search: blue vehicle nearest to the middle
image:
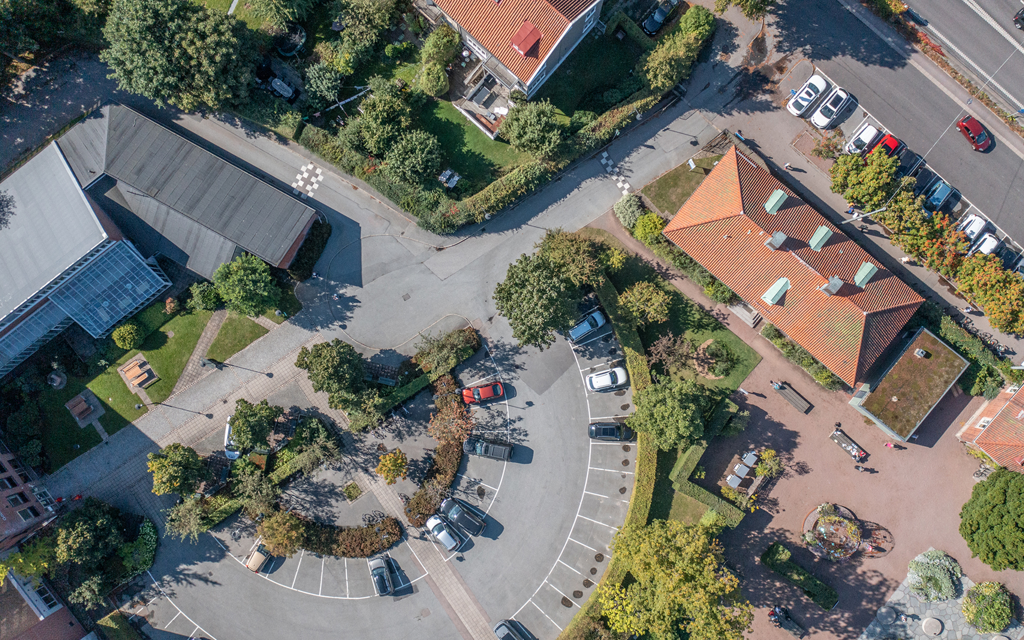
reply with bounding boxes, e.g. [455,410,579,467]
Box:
[564,310,608,344]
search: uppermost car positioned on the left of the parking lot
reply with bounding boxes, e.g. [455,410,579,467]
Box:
[642,0,680,36]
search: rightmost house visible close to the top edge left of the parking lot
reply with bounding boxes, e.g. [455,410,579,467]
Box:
[413,0,608,96]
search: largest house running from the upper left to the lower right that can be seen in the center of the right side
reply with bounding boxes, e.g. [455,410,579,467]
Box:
[663,145,925,388]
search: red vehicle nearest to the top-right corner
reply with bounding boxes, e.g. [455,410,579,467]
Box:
[953,111,990,155]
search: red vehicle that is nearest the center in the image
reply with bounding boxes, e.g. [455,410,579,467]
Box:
[462,381,505,403]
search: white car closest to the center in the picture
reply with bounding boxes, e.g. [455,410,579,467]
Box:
[585,367,629,390]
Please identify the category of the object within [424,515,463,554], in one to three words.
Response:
car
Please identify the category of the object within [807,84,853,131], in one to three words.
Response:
car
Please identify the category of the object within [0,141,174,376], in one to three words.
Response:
building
